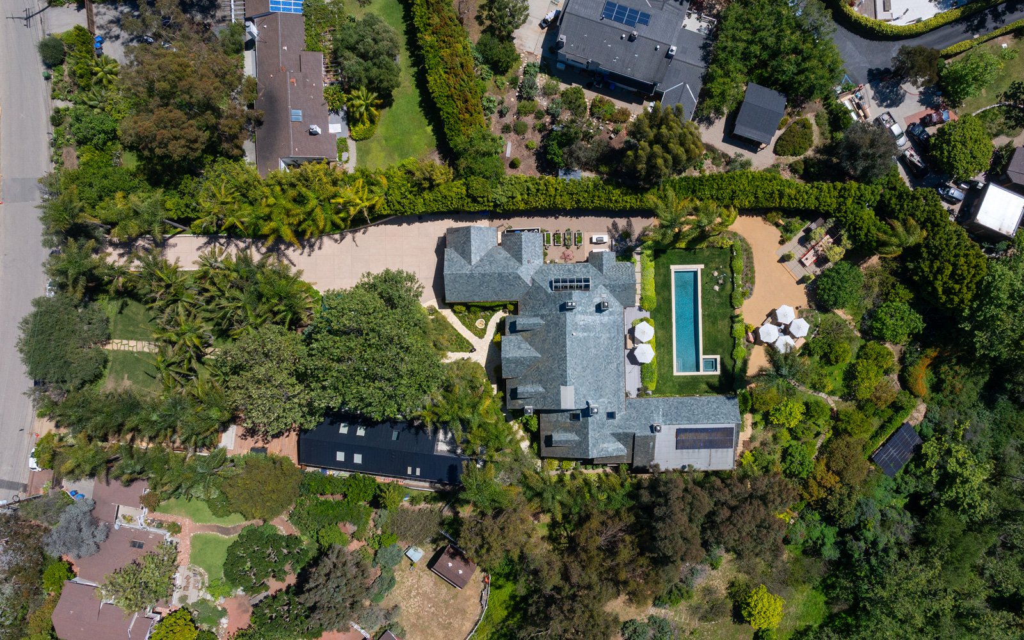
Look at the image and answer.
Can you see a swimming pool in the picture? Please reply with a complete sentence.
Yes, I can see a swimming pool in this picture.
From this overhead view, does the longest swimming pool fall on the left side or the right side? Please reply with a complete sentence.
It is on the right.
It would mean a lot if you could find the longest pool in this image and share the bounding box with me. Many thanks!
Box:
[671,265,720,375]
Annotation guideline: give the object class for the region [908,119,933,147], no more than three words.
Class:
car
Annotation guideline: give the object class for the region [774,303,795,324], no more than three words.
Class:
umbrella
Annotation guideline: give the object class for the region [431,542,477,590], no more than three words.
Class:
shed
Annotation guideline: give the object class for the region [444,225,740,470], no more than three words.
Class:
house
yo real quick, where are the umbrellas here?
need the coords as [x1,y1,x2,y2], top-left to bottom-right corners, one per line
[633,344,655,363]
[788,318,809,337]
[757,323,779,343]
[773,336,794,356]
[633,321,654,341]
[774,303,795,324]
